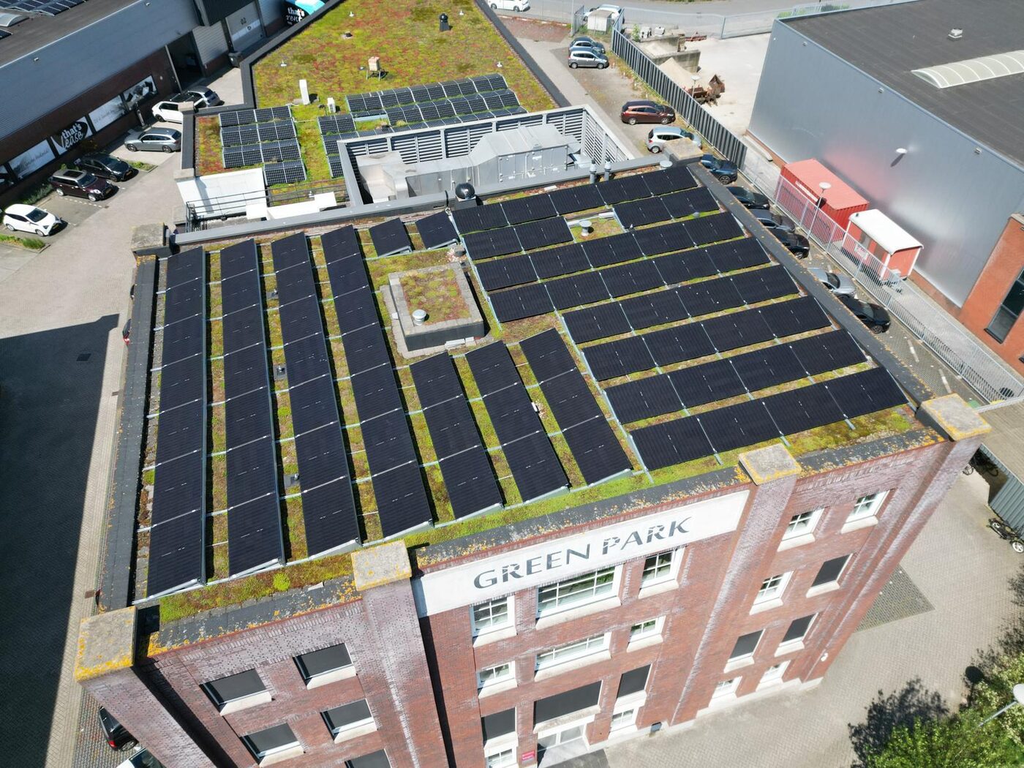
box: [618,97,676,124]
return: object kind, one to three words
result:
car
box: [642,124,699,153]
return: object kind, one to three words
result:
car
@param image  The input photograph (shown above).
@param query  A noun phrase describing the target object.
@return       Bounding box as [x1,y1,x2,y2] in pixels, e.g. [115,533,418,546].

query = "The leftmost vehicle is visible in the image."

[0,201,62,236]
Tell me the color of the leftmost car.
white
